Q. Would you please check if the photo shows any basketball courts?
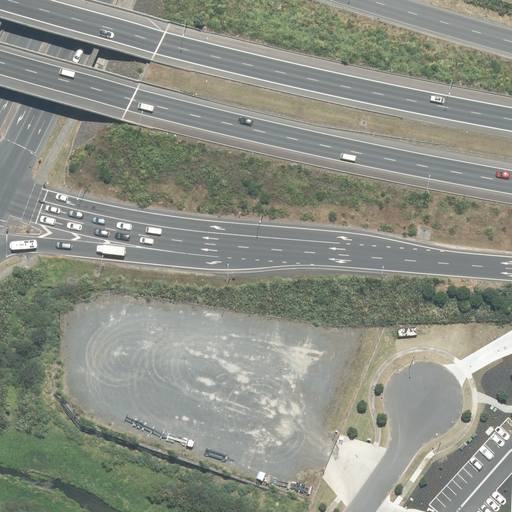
No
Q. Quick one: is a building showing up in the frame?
No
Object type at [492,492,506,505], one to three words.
vehicle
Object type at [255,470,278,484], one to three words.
vehicle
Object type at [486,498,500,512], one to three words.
car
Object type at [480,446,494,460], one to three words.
car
